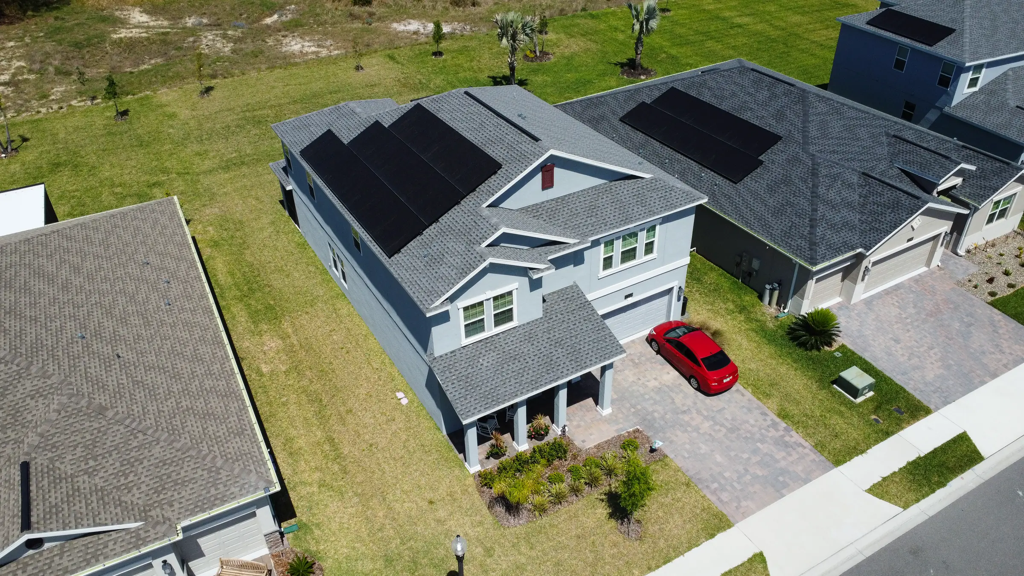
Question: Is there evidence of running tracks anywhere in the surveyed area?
No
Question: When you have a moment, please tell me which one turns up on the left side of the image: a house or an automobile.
house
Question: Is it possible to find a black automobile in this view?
No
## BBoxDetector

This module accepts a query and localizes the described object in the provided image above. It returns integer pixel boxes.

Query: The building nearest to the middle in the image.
[269,84,712,473]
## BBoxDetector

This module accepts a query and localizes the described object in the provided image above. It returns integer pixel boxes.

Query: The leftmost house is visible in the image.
[0,185,283,576]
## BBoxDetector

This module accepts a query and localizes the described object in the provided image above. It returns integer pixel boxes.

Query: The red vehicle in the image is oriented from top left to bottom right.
[651,319,743,395]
